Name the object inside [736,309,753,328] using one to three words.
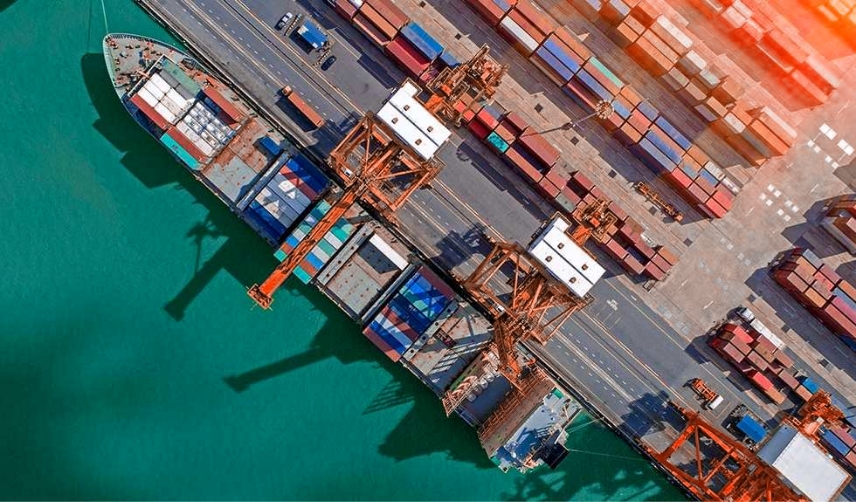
vehicle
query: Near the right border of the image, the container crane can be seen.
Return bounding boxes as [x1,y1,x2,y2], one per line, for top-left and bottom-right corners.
[635,387,856,502]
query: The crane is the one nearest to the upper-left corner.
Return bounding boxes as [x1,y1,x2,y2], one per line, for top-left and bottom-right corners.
[242,23,499,318]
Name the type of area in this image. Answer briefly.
port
